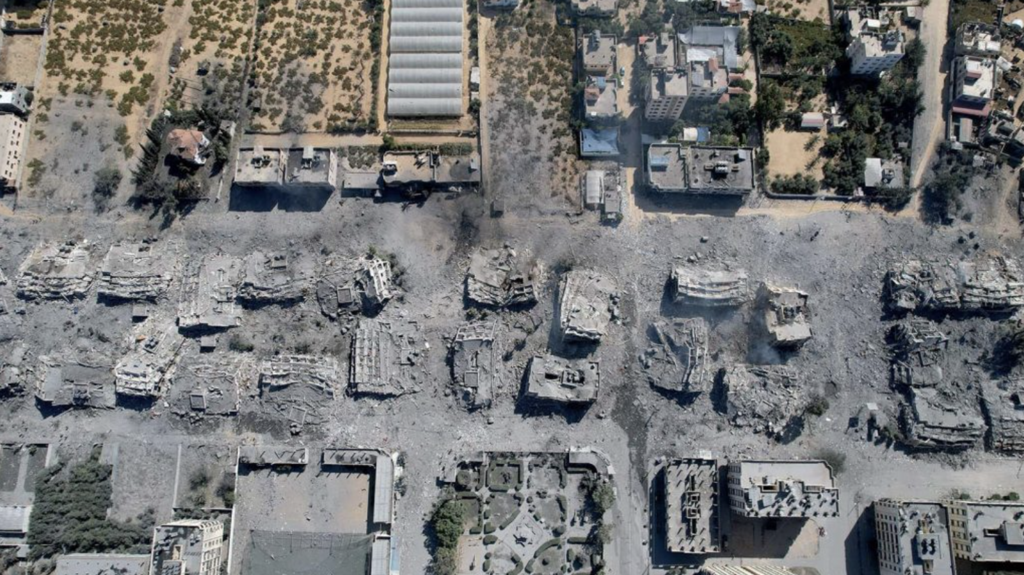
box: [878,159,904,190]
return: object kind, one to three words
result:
shed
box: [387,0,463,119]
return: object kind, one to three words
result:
greenhouse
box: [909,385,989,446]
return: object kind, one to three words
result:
building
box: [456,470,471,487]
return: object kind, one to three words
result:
gazebo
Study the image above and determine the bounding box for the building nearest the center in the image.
[461,243,548,304]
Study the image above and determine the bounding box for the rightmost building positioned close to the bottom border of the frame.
[937,499,1024,562]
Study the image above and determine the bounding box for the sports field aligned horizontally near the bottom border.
[246,531,374,575]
